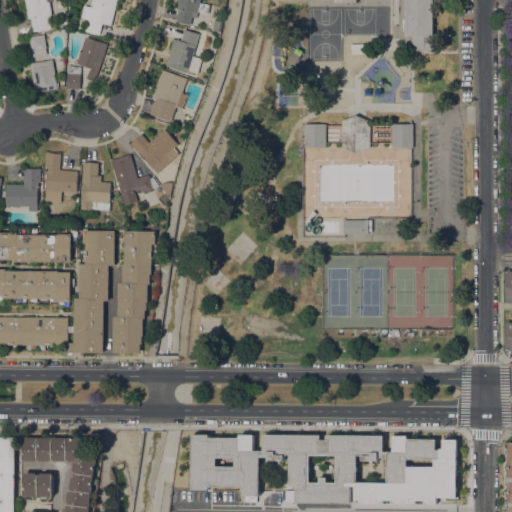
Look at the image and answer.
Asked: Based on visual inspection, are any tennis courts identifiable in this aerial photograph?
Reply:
Yes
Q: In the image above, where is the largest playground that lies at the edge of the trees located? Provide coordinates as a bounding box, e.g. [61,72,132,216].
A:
[358,58,410,103]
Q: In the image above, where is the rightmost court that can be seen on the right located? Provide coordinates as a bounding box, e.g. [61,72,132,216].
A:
[420,254,454,328]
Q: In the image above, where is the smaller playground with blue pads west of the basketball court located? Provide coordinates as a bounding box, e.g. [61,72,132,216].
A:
[272,44,306,74]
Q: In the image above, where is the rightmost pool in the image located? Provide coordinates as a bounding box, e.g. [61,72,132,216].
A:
[186,84,202,110]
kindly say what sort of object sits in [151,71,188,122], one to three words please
house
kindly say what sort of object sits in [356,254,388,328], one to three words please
tennis court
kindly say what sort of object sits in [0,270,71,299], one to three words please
building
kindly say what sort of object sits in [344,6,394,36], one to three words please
basketball court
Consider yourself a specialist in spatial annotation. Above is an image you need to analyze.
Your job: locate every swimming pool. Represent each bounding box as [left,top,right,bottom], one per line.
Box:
[10,212,34,224]
[50,35,64,58]
[71,34,83,58]
[186,84,202,110]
